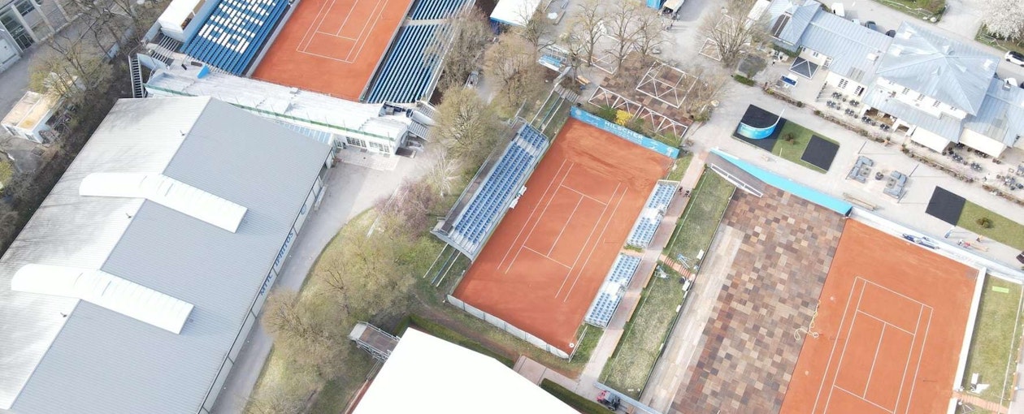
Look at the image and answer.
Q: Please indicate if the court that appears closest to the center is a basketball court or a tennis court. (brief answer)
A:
tennis court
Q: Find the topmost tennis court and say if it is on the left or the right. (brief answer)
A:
left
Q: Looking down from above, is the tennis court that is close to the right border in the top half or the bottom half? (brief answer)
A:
bottom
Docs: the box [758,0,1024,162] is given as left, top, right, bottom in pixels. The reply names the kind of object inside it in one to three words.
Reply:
building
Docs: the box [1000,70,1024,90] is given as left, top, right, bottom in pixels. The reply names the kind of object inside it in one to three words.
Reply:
vehicle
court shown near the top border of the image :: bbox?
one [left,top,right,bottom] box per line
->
[252,0,413,99]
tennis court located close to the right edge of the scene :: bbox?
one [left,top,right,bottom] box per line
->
[782,218,979,414]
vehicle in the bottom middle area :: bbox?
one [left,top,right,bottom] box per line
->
[596,390,629,414]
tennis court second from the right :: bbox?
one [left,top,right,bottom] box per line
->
[452,117,674,360]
